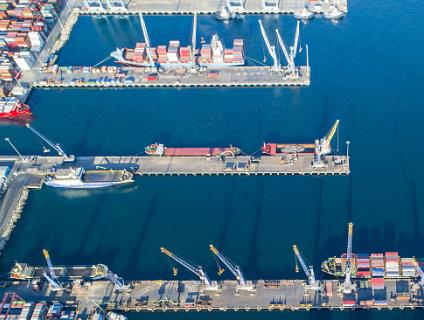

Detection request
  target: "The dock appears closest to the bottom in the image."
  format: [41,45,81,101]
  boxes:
[108,280,424,312]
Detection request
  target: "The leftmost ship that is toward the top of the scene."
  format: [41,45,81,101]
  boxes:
[0,92,33,118]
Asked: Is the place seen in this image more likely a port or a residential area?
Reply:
port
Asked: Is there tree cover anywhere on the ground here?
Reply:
No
